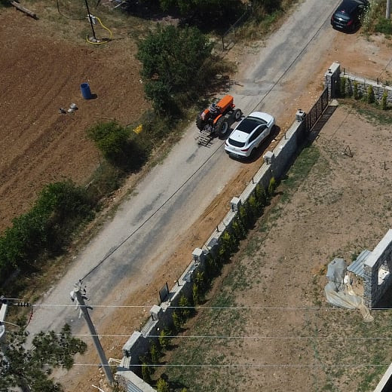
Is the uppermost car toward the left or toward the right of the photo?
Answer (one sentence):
It is on the right.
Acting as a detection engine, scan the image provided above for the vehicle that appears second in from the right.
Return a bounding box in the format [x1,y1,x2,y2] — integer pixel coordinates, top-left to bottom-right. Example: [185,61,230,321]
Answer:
[225,111,277,157]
